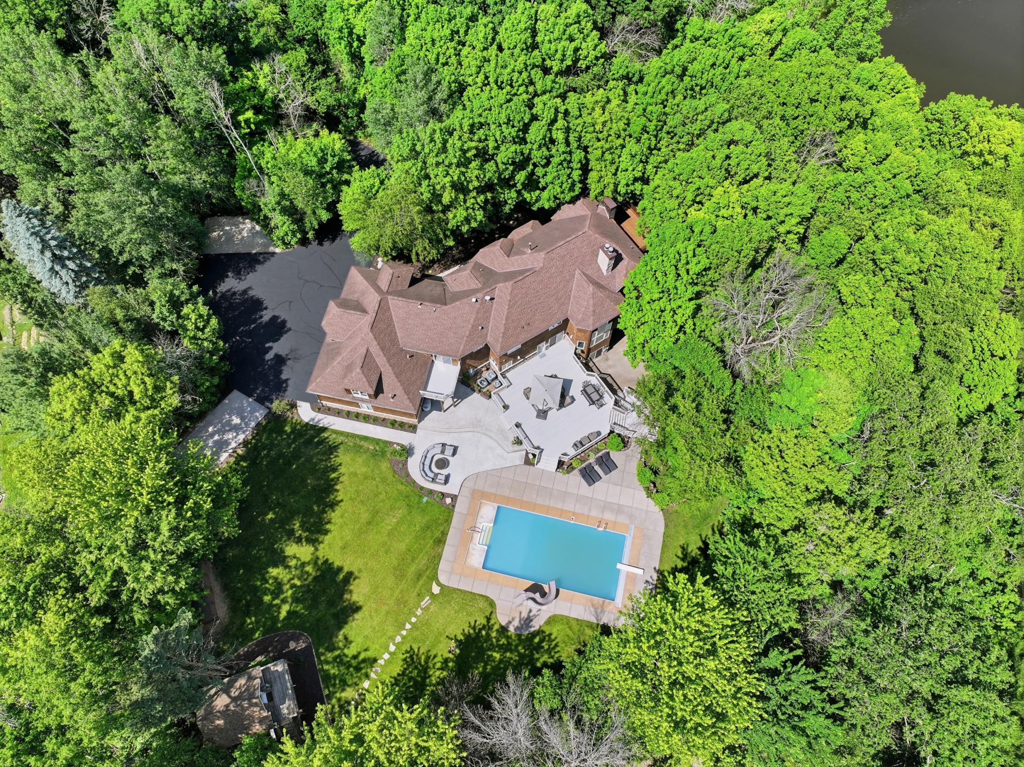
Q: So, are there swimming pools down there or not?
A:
Yes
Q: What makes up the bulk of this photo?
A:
trees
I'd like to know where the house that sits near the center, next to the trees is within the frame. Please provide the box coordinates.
[306,195,645,424]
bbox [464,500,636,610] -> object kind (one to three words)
swimming pool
